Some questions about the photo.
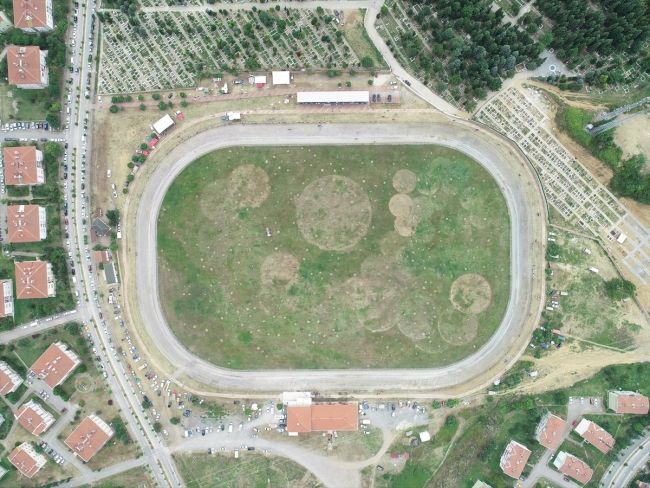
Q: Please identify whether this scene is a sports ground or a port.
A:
sports ground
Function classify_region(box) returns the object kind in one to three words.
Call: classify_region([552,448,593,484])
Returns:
building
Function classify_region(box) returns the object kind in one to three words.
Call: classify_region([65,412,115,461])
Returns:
building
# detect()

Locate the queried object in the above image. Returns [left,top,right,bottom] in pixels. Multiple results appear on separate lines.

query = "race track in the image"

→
[126,112,542,395]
